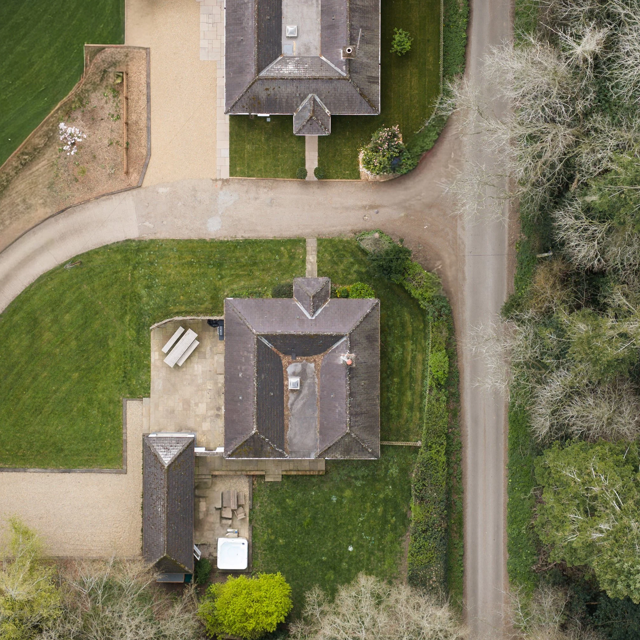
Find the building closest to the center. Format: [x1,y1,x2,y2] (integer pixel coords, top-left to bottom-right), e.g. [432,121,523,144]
[223,276,381,460]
